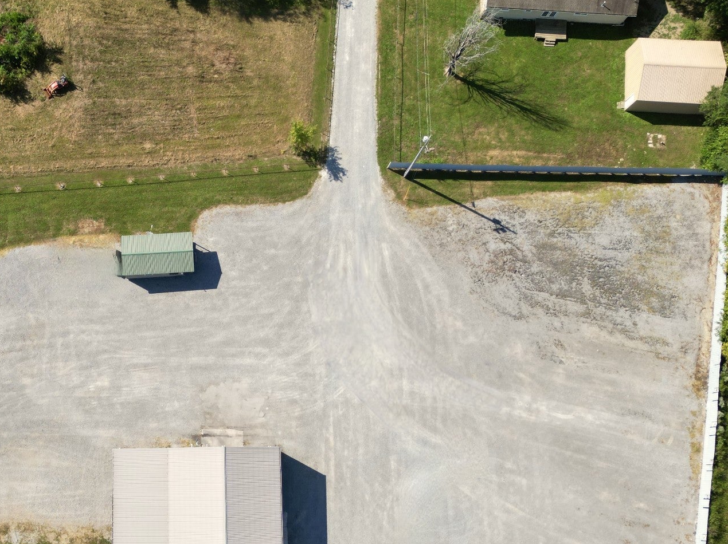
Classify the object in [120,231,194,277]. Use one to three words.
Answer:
shed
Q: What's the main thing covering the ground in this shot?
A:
paved ground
